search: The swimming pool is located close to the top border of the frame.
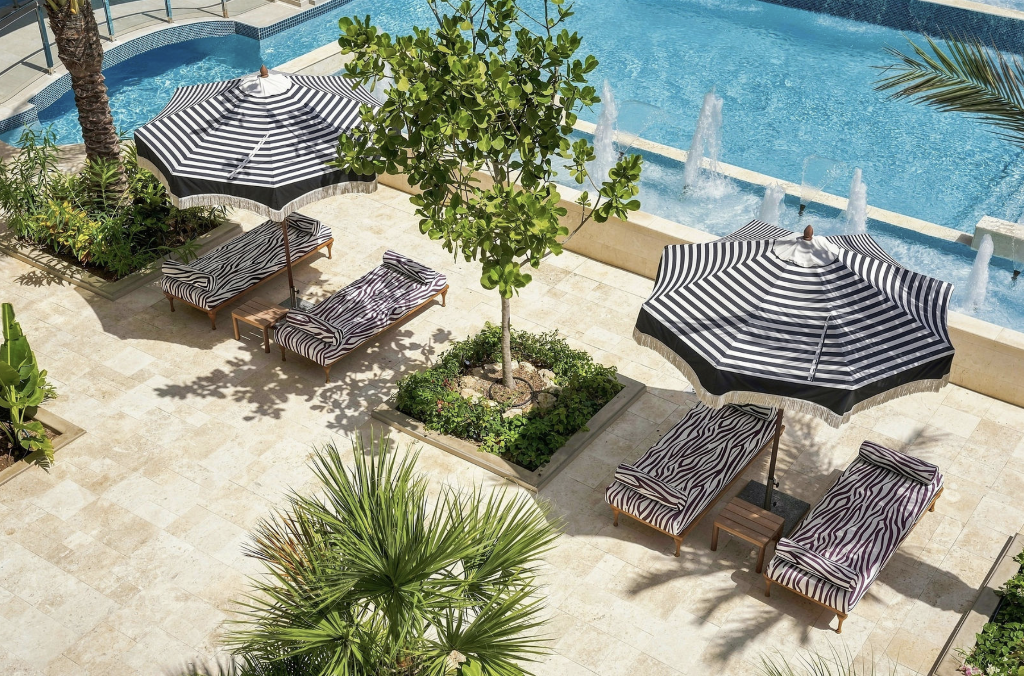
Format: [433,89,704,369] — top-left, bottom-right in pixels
[0,0,1024,235]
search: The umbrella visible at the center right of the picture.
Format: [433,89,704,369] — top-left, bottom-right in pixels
[634,221,953,539]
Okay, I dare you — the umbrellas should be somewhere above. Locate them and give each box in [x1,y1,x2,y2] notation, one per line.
[137,63,387,322]
[634,221,953,539]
